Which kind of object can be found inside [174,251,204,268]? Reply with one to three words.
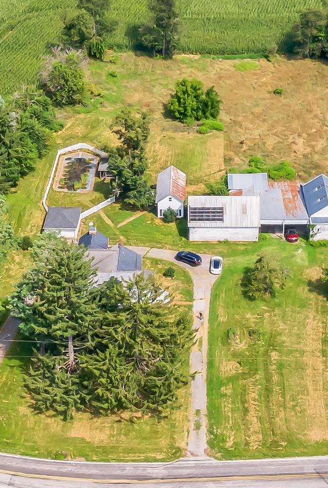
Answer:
car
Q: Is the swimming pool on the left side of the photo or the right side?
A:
left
